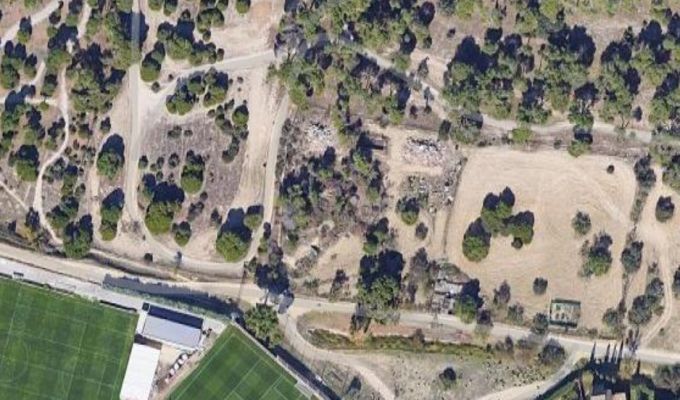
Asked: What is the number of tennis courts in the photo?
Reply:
0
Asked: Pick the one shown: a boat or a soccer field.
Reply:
soccer field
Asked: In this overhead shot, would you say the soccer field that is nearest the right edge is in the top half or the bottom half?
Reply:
bottom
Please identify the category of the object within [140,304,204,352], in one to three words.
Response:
building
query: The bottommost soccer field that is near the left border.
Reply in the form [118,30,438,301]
[0,281,137,400]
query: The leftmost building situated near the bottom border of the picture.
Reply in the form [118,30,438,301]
[119,344,159,400]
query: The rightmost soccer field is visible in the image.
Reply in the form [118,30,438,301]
[176,323,325,400]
